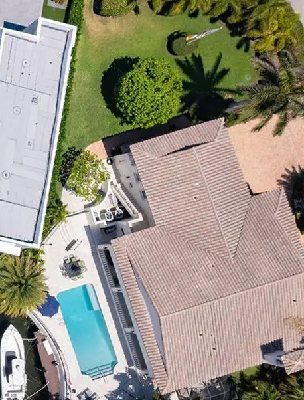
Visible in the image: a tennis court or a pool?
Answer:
pool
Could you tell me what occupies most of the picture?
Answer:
buildings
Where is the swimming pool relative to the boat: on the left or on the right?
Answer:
right of it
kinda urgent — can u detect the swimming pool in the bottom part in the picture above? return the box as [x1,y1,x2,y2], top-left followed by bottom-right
[57,283,119,382]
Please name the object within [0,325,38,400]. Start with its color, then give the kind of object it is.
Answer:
white boat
